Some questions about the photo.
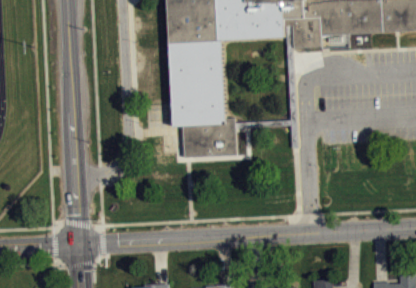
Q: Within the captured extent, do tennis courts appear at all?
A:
No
